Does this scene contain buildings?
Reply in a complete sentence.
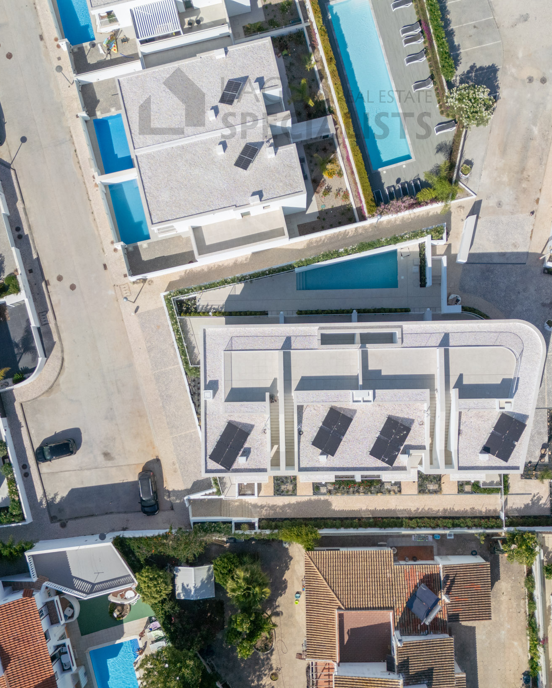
Yes, you can see a building in this photo.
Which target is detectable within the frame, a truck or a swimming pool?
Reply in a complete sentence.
There is a swimming pool in the scene.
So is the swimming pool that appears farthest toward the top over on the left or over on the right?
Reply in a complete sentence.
The swimming pool that appears farthest toward the top appears in the left half of the scene.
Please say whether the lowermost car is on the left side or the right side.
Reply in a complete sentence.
You can find the lowermost car on the left side of the picture.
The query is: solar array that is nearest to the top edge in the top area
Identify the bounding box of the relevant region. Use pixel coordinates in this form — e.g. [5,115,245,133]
[220,79,243,108]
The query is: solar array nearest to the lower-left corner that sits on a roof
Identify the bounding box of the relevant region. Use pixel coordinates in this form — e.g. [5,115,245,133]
[206,421,249,469]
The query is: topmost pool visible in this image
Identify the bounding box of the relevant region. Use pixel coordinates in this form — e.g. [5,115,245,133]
[56,0,96,46]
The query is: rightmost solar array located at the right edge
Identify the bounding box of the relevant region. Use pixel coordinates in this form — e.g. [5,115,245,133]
[479,412,526,462]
